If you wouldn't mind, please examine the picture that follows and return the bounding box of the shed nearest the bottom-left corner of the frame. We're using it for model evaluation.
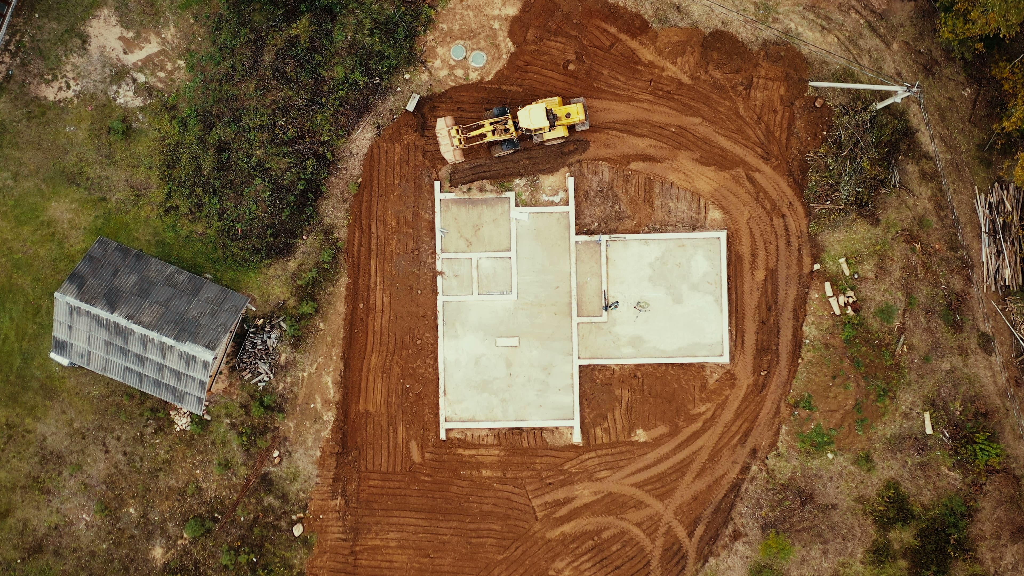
[52,236,258,415]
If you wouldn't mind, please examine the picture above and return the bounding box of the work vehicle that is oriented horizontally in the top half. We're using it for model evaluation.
[436,96,589,165]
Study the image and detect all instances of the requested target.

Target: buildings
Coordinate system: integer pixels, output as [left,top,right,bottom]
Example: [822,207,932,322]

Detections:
[0,0,17,44]
[52,236,258,415]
